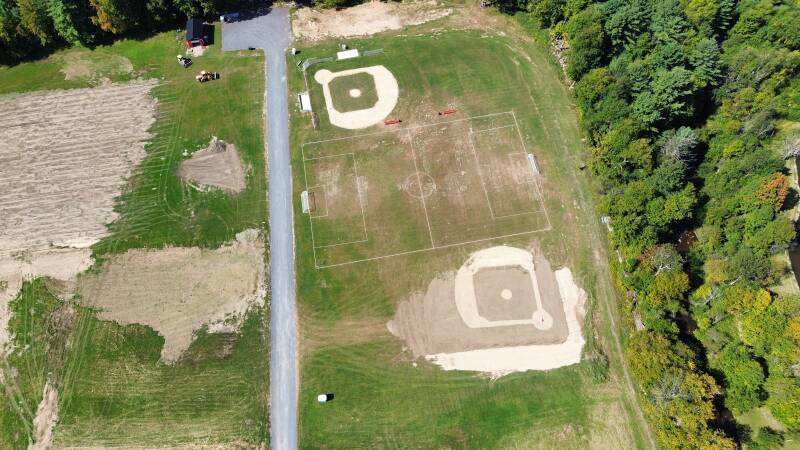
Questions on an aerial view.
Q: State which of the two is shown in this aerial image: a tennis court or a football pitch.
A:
football pitch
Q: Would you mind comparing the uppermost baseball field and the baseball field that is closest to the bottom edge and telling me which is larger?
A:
the baseball field that is closest to the bottom edge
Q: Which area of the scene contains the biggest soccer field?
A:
center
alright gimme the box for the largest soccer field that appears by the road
[299,109,555,271]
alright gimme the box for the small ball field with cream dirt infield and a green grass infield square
[313,66,398,128]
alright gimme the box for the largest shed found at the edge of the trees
[184,18,202,49]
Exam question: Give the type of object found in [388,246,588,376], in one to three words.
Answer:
baseball field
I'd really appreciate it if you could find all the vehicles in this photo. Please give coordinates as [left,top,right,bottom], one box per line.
[177,55,190,66]
[196,71,218,80]
[221,12,240,22]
